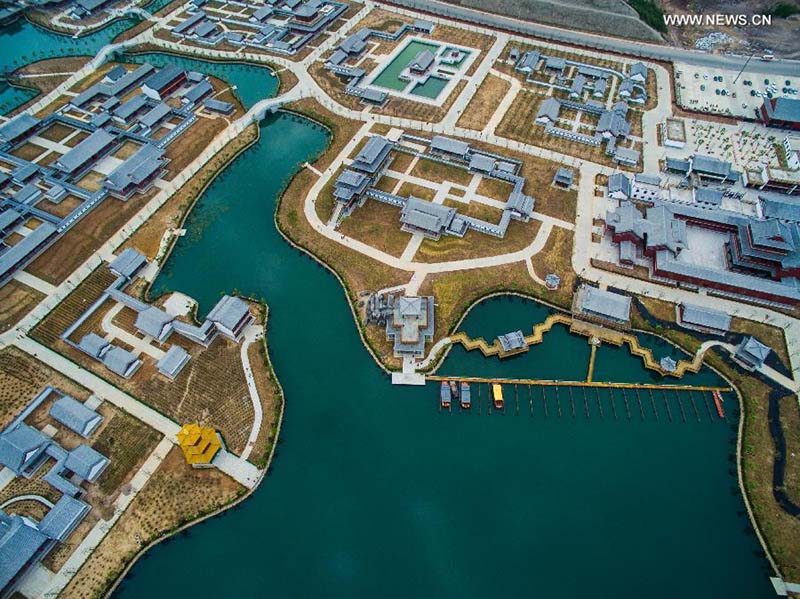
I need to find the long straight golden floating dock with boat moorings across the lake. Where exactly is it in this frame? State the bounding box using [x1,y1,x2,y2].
[424,374,734,391]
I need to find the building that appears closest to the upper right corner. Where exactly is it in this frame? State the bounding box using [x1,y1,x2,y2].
[763,98,800,131]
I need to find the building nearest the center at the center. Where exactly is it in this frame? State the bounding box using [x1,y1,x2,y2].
[387,294,434,356]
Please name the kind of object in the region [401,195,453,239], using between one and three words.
building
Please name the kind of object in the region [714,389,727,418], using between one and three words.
boat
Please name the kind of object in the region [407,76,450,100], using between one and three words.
swimming pool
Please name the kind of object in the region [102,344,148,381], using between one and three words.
house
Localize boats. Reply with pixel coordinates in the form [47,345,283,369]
[714,389,727,418]
[441,381,451,408]
[451,379,458,398]
[493,383,505,409]
[461,381,471,409]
